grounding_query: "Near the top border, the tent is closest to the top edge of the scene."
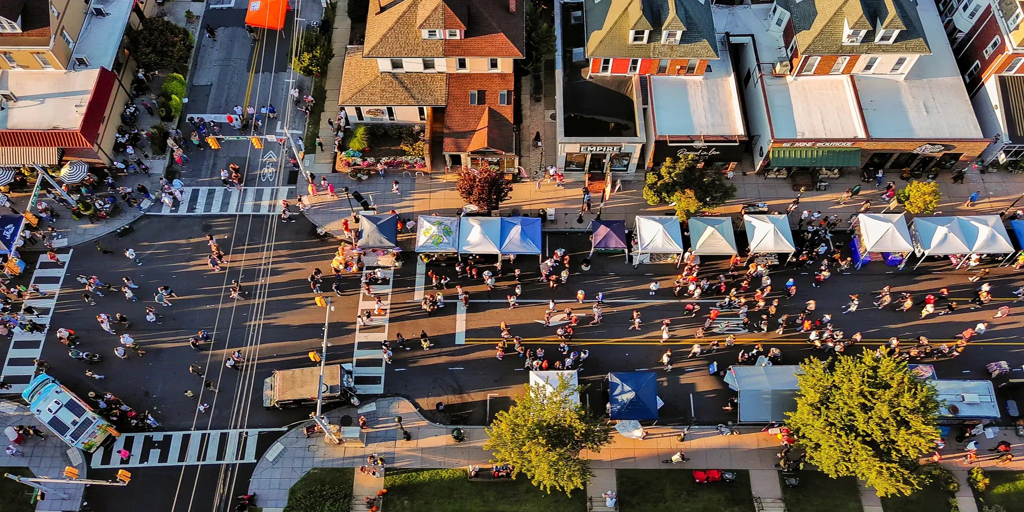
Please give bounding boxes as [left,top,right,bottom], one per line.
[247,0,297,48]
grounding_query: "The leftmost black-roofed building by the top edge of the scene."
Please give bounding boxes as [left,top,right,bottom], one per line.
[553,0,646,181]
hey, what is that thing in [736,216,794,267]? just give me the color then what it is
white tent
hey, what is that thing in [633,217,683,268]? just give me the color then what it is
white tent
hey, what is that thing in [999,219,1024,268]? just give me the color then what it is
blue tent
